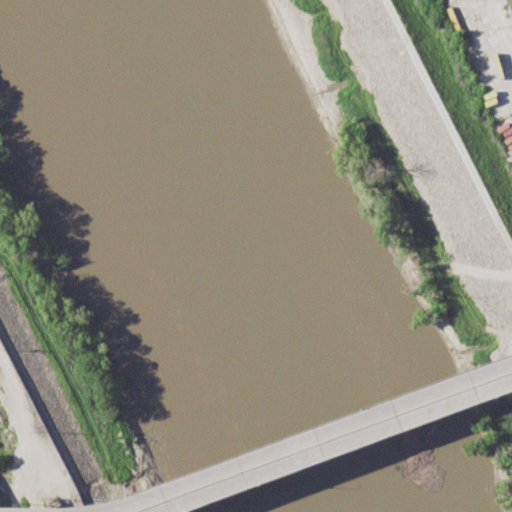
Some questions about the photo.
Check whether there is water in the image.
Yes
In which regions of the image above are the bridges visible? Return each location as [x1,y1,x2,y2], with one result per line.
[0,356,512,512]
